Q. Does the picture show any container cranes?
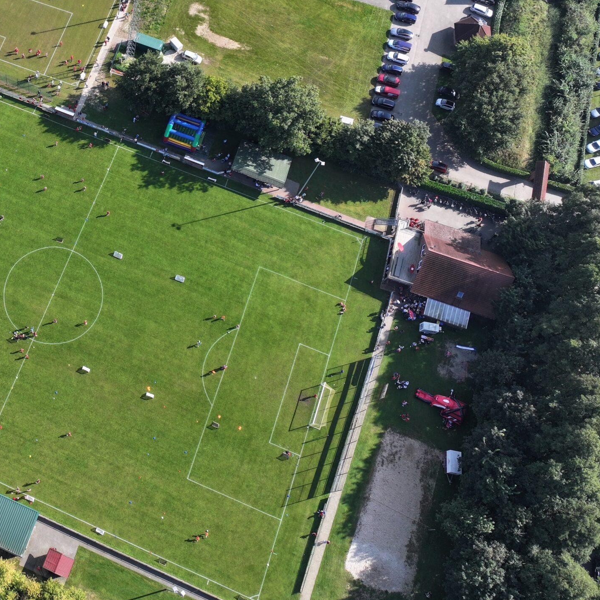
No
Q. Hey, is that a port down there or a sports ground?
sports ground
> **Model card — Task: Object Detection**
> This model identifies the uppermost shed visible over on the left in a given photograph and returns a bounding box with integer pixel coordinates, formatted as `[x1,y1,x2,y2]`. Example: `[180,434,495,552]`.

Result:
[133,32,164,57]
